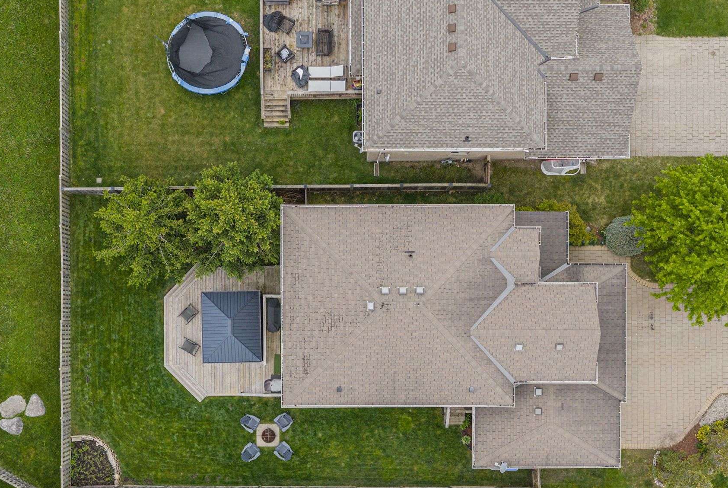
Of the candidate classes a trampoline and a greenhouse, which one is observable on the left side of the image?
trampoline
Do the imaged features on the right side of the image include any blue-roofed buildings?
No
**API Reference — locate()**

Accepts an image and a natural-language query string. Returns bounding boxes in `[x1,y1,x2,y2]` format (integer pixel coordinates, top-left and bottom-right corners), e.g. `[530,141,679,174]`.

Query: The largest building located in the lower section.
[281,204,626,468]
